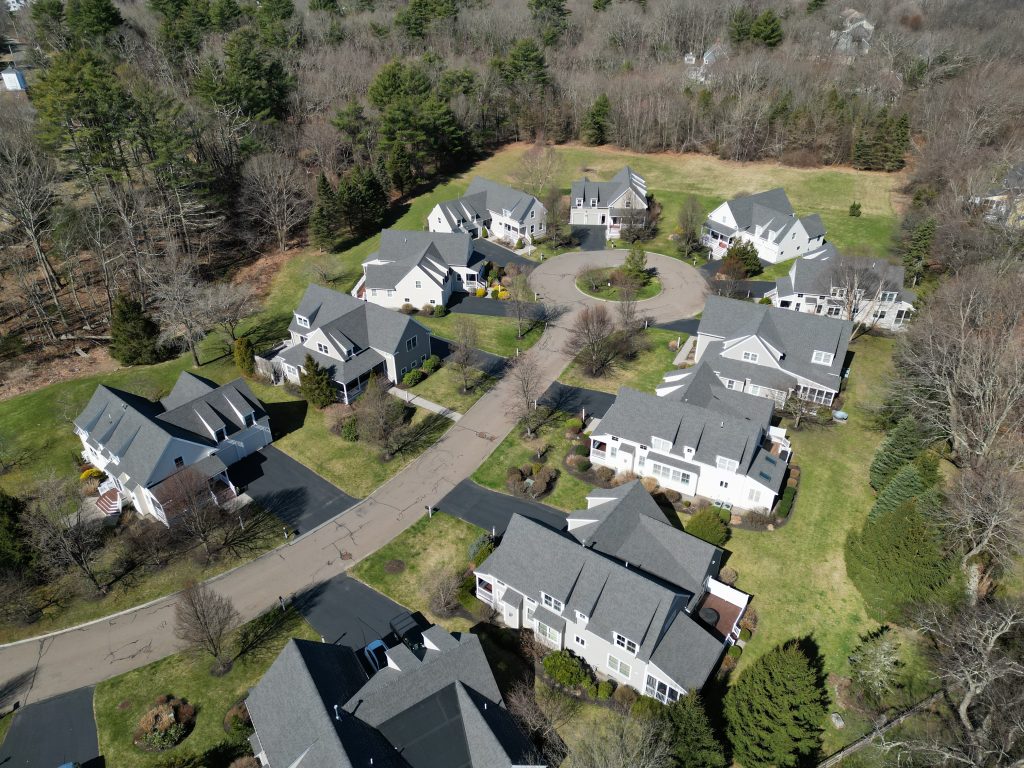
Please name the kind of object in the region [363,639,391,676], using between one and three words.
car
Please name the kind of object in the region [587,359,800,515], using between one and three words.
house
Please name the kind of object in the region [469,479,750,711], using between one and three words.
house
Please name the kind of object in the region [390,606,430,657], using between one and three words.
car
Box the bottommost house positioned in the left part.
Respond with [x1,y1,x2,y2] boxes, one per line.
[245,630,556,768]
